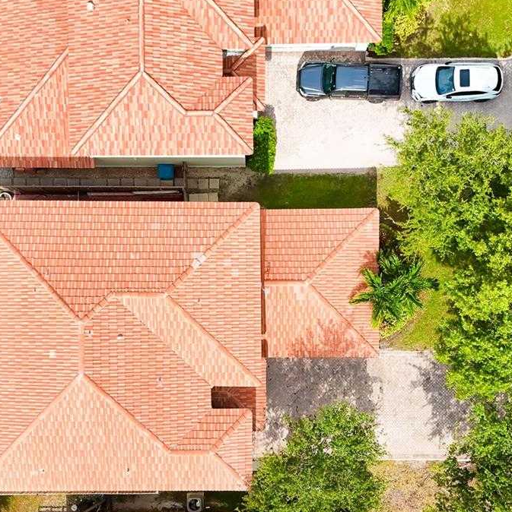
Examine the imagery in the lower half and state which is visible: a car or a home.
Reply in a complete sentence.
There is a home in the lower half.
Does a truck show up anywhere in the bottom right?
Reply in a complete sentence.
No, there is no truck in the bottom right.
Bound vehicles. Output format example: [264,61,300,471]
[297,57,404,105]
[410,57,504,105]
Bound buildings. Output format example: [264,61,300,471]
[0,198,381,494]
[0,0,384,169]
